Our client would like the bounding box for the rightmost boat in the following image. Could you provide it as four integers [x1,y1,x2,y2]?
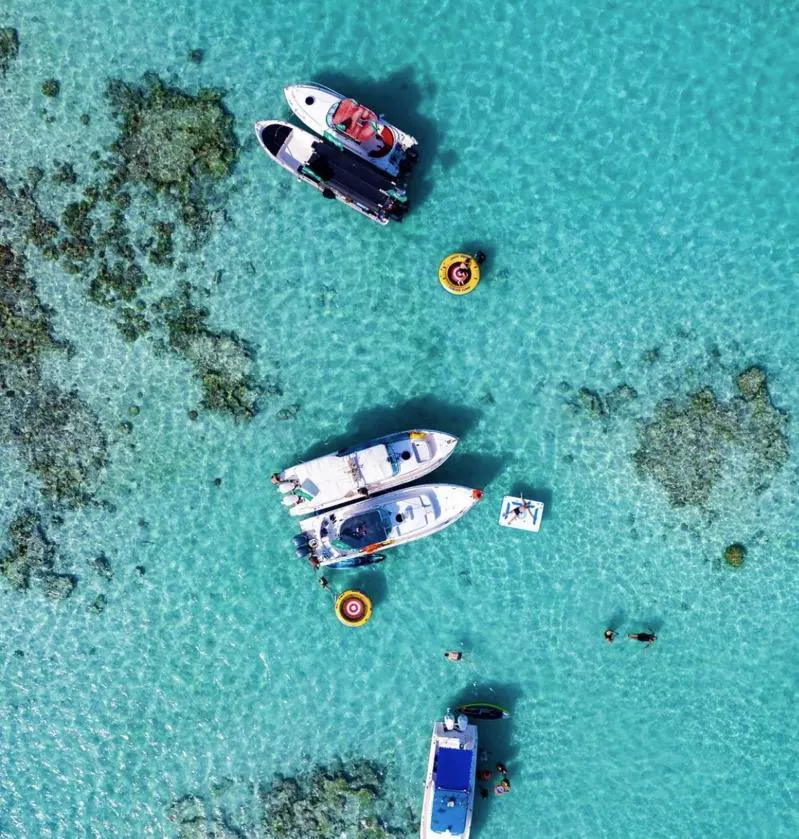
[455,703,511,719]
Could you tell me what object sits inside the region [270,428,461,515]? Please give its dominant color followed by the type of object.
white boat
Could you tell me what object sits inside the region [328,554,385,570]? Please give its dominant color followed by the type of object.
blue boat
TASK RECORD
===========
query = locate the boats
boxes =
[328,554,385,570]
[293,484,483,567]
[284,80,424,181]
[270,428,461,515]
[422,709,477,839]
[254,118,411,226]
[455,703,511,719]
